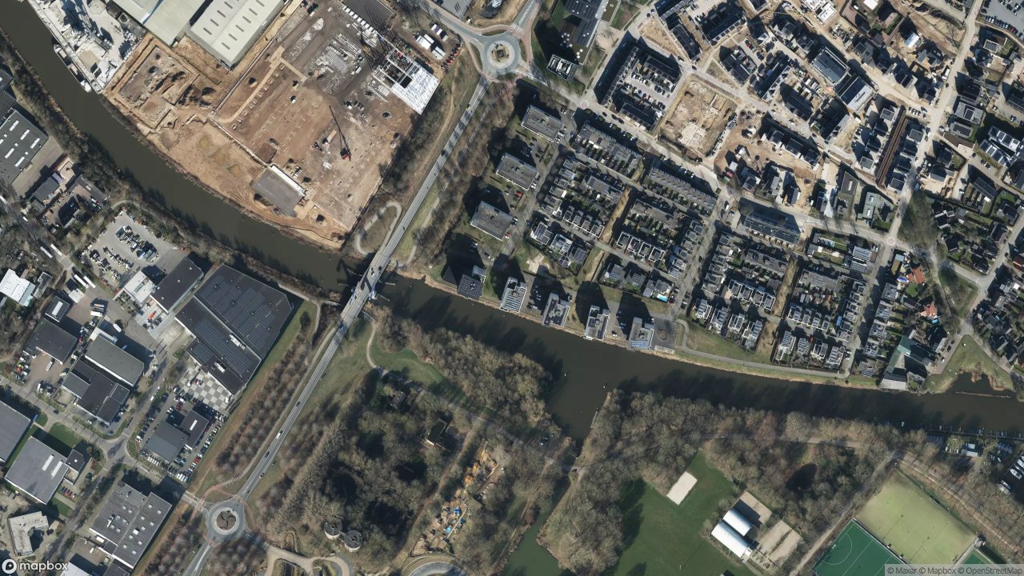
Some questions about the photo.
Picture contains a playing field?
Yes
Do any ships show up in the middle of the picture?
No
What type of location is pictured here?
residential area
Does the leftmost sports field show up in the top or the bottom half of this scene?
bottom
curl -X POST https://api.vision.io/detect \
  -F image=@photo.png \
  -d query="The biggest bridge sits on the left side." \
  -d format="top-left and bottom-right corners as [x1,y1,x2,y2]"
[331,256,390,332]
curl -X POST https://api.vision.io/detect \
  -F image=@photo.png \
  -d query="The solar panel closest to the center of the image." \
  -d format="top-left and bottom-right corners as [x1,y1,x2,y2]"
[505,293,523,310]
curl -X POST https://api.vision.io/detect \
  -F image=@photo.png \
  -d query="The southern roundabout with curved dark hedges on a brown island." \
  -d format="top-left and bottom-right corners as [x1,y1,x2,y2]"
[206,500,247,541]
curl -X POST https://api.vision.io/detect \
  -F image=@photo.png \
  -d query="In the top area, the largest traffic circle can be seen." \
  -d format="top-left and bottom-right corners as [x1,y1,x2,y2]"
[479,32,523,75]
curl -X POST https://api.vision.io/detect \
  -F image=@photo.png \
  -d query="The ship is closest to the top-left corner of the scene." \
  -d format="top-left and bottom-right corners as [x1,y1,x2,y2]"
[54,47,92,94]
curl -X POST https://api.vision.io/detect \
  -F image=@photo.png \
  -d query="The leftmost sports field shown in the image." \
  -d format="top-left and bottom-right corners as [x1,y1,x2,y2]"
[611,453,760,576]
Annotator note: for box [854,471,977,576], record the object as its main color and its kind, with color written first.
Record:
green sports field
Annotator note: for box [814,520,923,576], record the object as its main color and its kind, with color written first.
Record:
green sports field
